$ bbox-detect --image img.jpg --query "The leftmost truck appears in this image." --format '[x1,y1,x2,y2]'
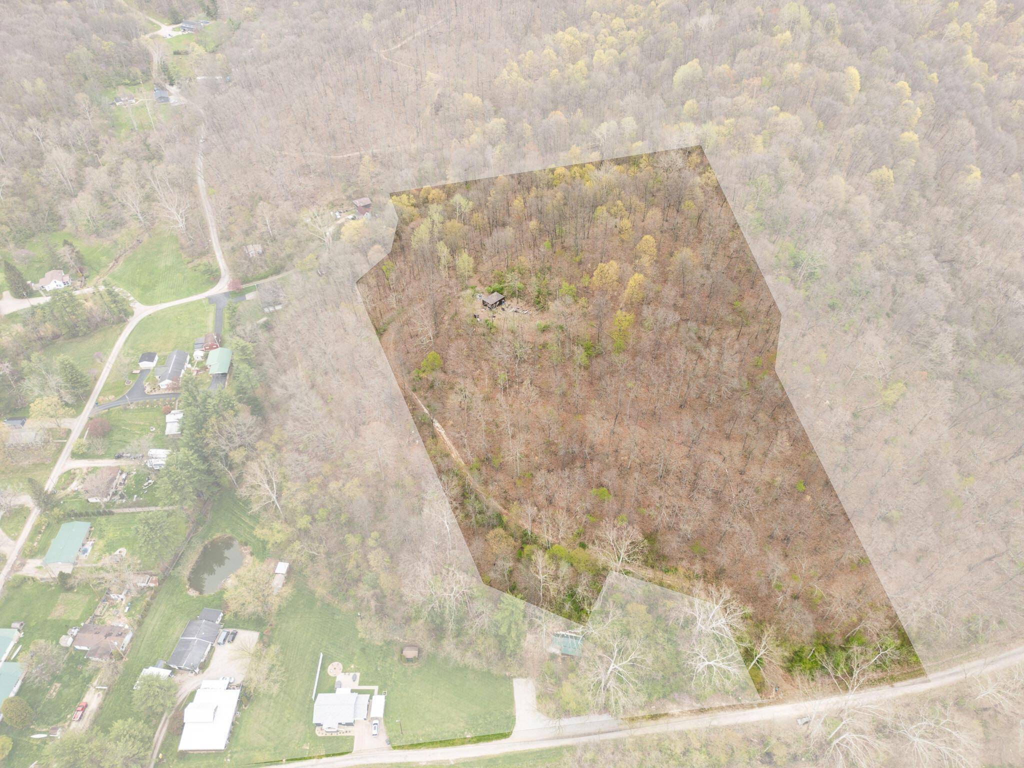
[67,698,89,722]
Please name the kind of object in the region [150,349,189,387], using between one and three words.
house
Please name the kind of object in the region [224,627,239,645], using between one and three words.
car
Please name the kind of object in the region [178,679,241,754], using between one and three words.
barn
